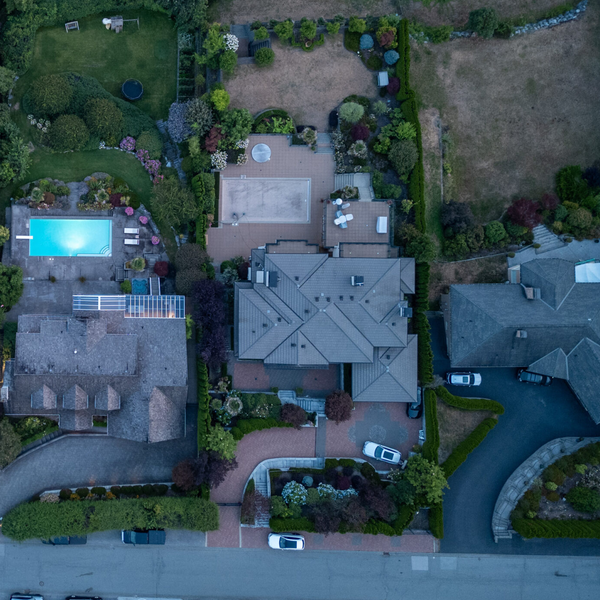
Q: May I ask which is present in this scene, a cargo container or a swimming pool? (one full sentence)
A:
Looking from above, you can make out a swimming pool.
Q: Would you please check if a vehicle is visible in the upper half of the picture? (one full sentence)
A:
No, no vehicle can be made out in the upper half of the picture.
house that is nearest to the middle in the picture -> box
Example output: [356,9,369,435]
[231,249,418,403]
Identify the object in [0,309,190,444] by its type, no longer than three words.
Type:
house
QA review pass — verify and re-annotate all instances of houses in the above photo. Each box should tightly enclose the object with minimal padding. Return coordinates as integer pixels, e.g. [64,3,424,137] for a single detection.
[0,309,190,444]
[437,259,600,424]
[231,249,418,403]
